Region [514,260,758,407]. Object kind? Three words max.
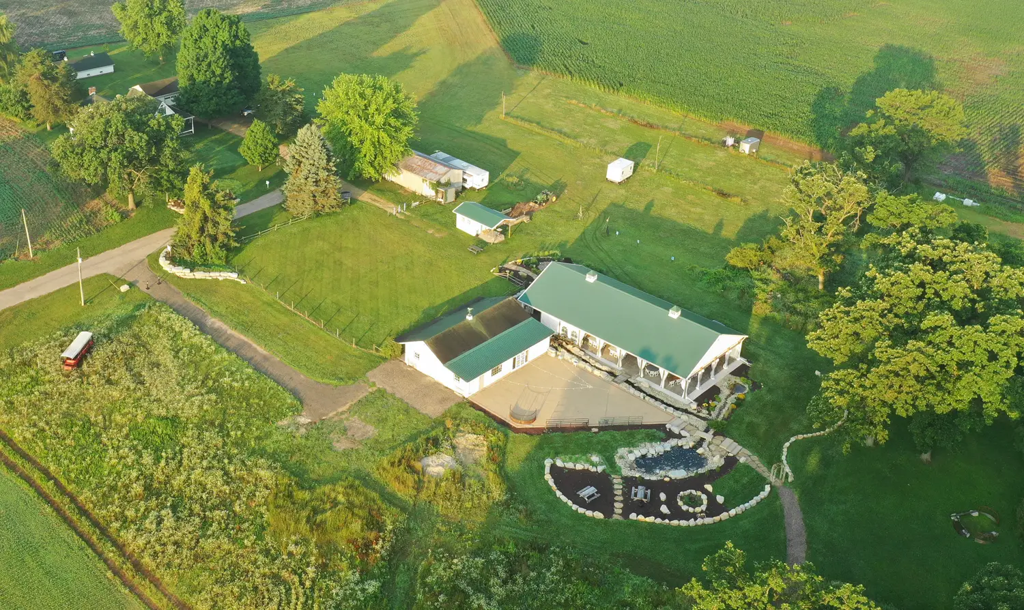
building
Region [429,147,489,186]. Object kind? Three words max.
vehicle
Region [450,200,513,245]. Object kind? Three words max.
shed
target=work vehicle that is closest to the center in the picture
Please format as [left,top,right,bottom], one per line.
[530,185,559,210]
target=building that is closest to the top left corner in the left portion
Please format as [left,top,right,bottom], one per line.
[48,49,115,80]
